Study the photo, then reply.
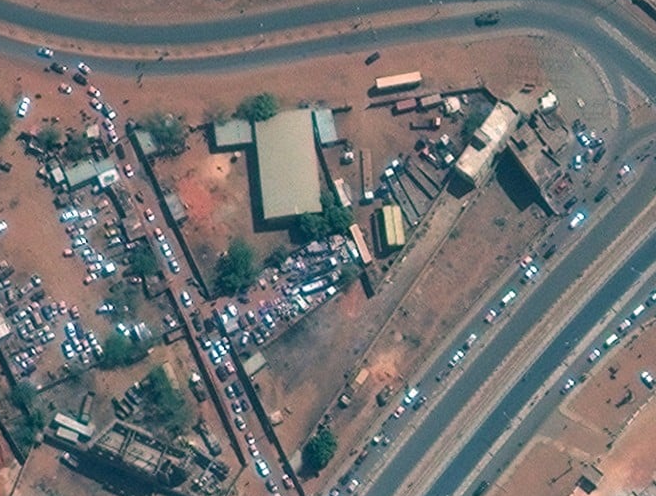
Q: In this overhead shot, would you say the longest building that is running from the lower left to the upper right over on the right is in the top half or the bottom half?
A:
top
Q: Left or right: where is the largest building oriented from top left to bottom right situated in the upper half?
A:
right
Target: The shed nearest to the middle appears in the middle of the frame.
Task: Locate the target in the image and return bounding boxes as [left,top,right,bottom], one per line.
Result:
[349,223,371,264]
